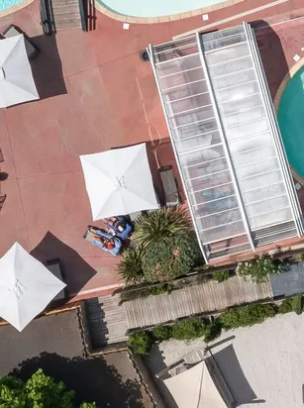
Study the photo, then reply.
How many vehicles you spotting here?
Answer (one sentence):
Not a single vehicle can be seen.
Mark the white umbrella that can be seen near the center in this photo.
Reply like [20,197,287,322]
[80,142,160,222]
